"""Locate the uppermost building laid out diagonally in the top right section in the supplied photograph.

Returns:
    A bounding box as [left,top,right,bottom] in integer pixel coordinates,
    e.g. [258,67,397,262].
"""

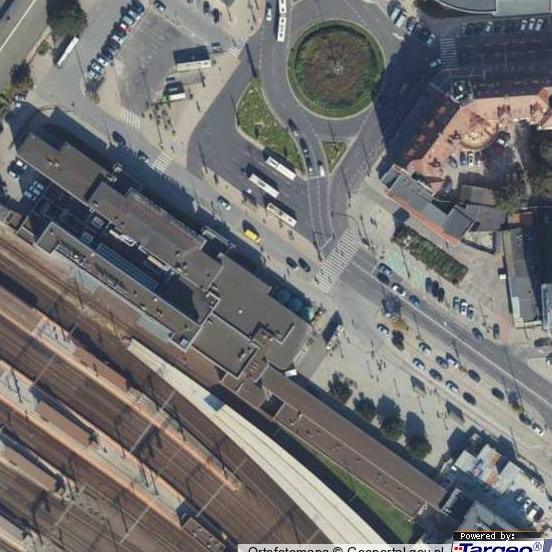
[395,77,541,180]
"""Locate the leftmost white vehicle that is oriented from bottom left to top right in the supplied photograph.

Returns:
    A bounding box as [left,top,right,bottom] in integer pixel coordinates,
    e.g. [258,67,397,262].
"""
[56,36,80,67]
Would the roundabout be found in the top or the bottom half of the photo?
top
